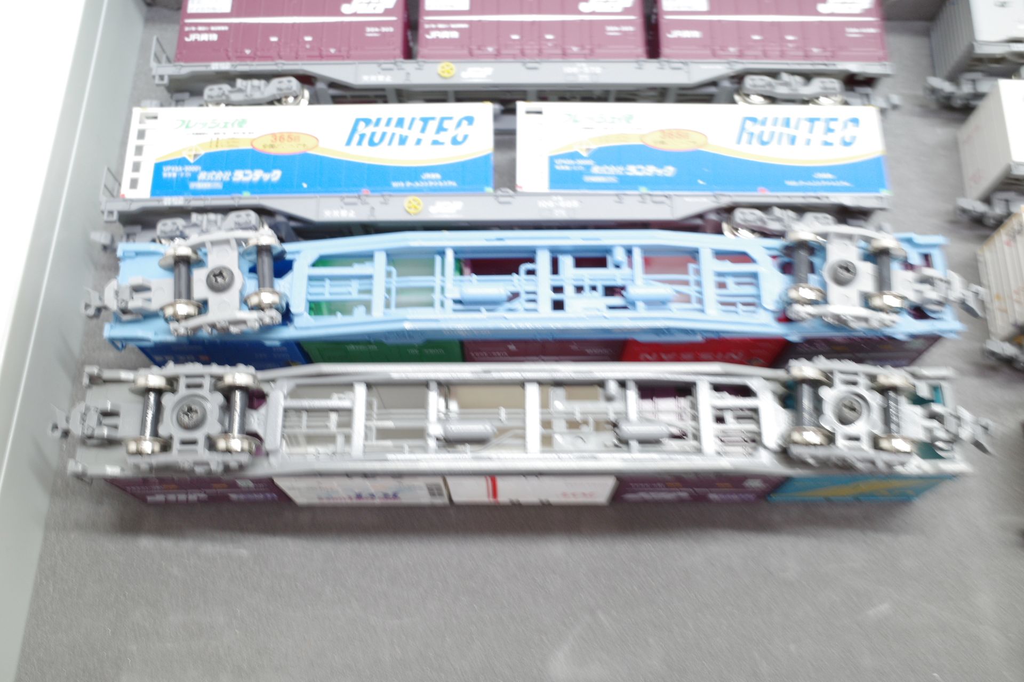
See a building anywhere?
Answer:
No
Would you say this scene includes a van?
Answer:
No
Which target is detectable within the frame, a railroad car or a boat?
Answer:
railroad car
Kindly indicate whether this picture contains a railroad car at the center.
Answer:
Yes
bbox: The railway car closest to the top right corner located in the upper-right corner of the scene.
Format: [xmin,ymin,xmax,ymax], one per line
[926,37,1024,111]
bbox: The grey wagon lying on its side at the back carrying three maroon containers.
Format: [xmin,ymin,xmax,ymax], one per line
[145,34,905,137]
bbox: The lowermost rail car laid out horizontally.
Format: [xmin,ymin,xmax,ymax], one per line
[42,356,997,492]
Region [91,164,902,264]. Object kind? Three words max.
rail car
